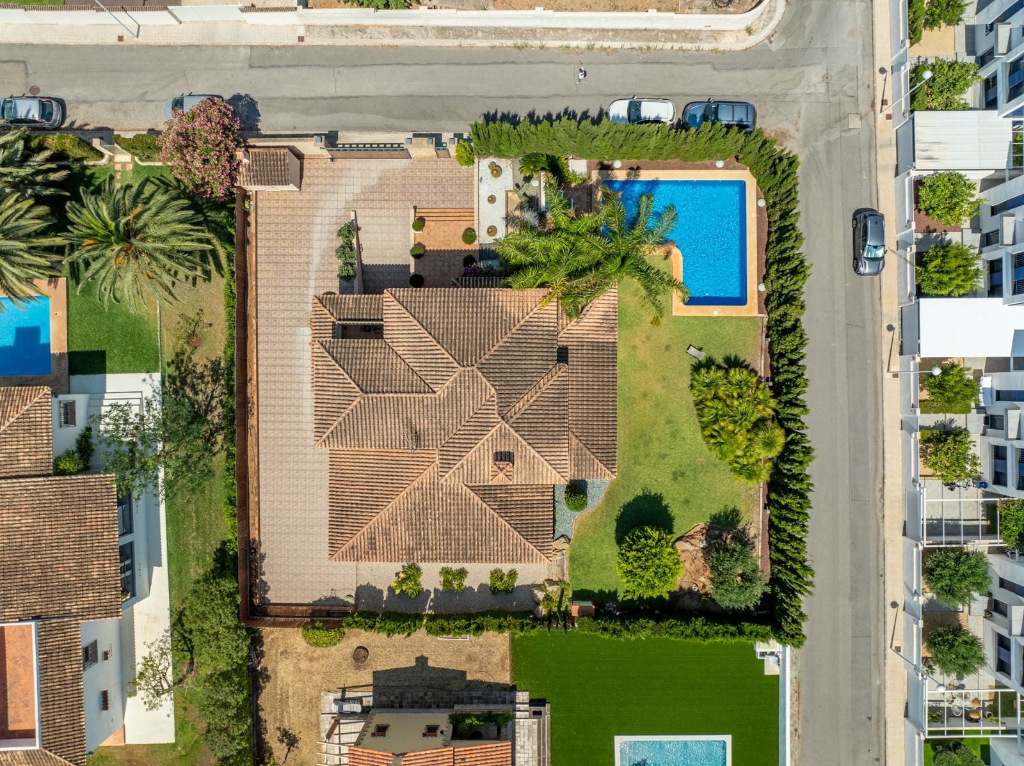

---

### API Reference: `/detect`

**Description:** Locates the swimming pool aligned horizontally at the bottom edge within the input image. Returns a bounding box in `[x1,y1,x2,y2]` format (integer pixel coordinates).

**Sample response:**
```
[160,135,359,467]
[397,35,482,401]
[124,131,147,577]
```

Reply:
[623,743,725,766]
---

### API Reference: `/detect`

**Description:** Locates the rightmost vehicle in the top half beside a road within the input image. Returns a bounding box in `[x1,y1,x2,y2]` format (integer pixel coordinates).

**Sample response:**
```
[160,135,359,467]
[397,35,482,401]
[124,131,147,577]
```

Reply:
[850,210,888,277]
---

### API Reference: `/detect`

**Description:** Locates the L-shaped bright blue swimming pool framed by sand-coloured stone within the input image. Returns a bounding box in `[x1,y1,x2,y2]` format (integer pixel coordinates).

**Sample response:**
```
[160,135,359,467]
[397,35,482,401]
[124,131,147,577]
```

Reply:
[603,180,747,305]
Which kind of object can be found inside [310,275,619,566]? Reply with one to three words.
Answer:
house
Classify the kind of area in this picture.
residential area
